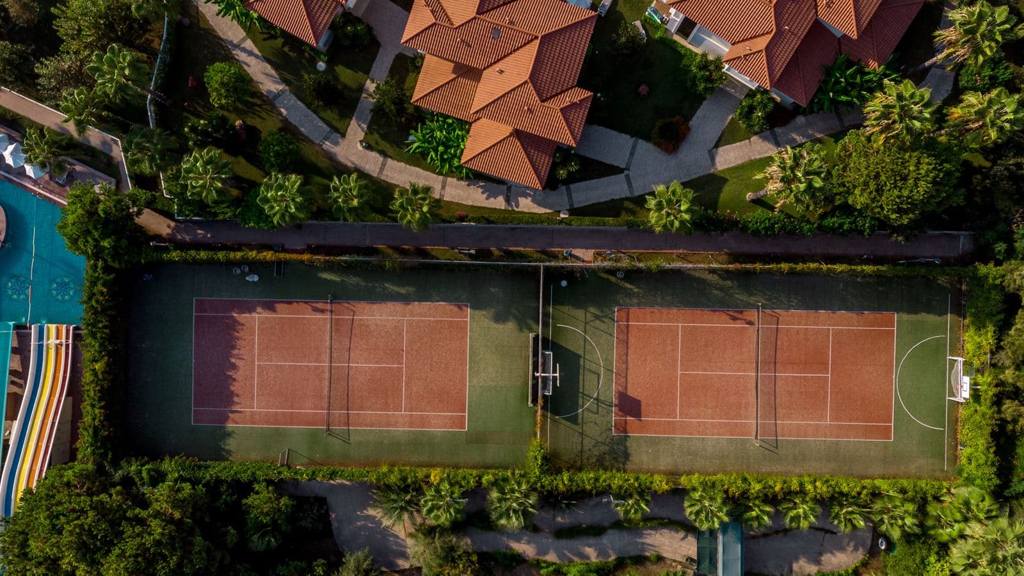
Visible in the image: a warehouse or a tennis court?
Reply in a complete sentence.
It is a tennis court that can be seen here.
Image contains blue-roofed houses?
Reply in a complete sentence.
No, there is no blue-roofed house in the image.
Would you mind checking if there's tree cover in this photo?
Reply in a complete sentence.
Yes, some tree cover is visible.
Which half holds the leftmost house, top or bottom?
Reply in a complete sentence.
The top half of the photo is where the leftmost house is.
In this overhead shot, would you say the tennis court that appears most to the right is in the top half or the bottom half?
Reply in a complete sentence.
The bottom half of the photo is where the tennis court that appears most to the right is.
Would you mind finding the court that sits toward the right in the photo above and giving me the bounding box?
[541,269,962,480]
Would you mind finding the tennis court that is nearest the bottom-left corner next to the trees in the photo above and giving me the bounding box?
[139,263,540,471]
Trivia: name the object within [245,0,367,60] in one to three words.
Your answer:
house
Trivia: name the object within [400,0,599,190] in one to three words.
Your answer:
house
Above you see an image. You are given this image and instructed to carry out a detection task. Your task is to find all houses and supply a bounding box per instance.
[653,0,928,107]
[245,0,367,60]
[400,0,599,190]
